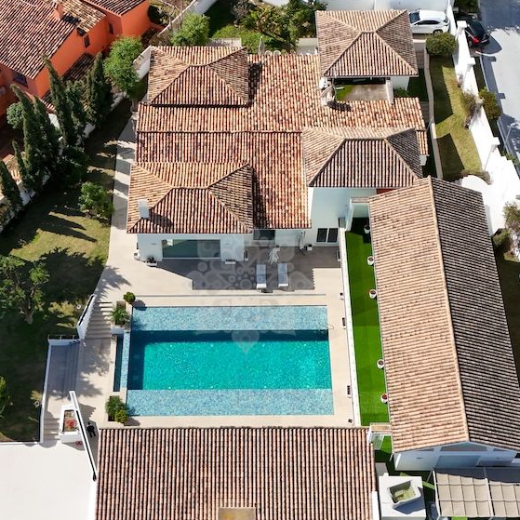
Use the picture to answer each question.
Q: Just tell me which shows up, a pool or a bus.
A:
pool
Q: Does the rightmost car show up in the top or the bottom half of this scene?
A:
top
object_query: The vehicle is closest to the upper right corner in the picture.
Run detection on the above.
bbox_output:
[458,12,496,47]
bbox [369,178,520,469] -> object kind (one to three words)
building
